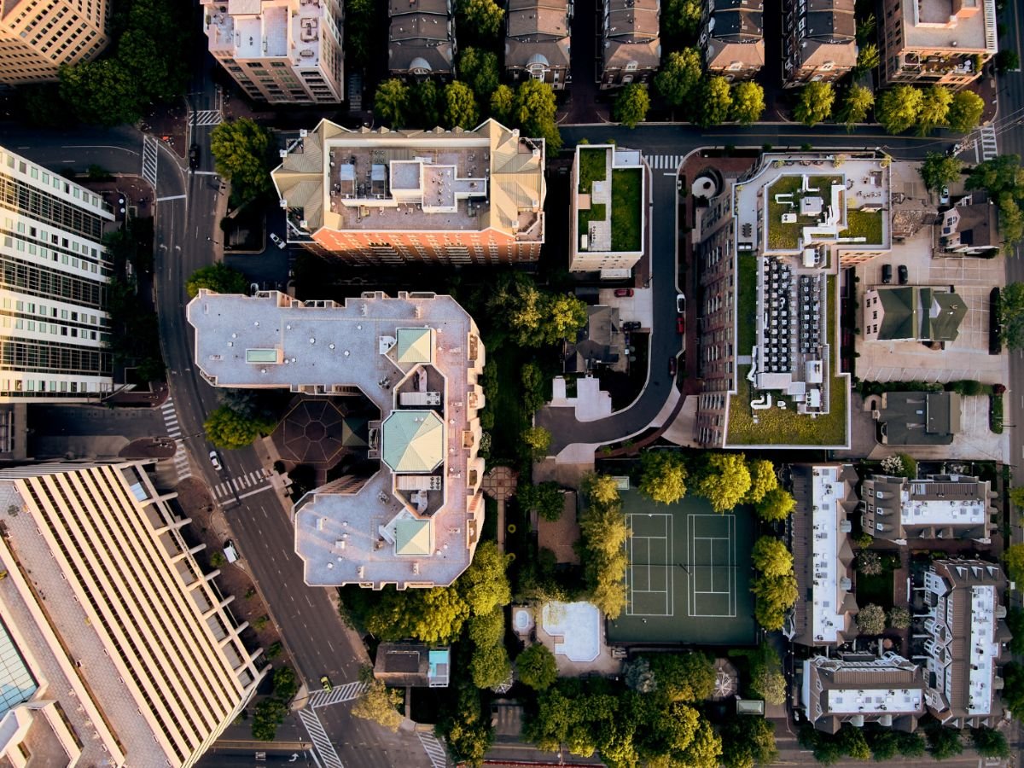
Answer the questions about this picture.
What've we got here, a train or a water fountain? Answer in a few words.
water fountain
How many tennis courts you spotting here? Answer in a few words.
2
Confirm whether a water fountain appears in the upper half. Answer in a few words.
Yes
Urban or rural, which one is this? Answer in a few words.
urban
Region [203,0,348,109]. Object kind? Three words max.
building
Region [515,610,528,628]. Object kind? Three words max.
swimming pool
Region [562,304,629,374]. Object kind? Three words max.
house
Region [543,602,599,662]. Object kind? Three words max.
swimming pool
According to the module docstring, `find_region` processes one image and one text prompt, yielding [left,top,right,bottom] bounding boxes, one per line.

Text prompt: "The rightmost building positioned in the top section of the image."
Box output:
[931,191,1000,257]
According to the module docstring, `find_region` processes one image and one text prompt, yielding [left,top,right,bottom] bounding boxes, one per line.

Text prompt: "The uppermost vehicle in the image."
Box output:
[186,142,198,165]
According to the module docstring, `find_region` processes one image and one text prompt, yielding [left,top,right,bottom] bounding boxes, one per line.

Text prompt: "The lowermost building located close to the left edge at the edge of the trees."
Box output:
[0,442,285,768]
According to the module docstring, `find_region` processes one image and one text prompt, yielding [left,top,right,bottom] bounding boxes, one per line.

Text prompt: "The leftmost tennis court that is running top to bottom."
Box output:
[609,477,680,645]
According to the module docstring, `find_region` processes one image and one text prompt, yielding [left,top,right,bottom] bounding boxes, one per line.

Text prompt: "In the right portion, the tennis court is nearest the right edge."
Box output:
[680,478,757,645]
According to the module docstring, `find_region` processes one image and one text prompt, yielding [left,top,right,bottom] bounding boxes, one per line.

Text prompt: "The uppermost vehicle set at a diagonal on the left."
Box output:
[269,231,286,250]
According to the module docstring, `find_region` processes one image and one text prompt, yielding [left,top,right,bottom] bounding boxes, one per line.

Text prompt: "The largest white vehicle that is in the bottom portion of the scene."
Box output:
[219,539,238,566]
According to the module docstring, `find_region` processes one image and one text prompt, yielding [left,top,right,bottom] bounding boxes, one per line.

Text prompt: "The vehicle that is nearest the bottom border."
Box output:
[319,674,332,695]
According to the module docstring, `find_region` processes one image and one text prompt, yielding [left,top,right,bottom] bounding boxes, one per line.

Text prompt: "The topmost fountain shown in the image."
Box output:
[691,159,732,199]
